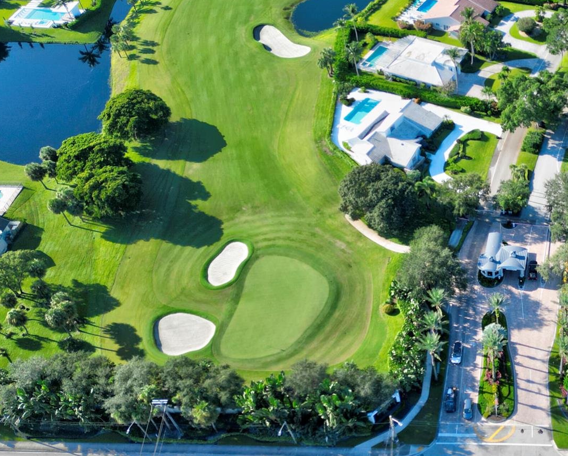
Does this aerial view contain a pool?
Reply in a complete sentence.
Yes, a pool can be made out from above.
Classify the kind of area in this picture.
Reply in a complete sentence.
This image shows a golf course.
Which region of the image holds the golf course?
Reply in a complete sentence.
The golf course is located in the center region of the scene.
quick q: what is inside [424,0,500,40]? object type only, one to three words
house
